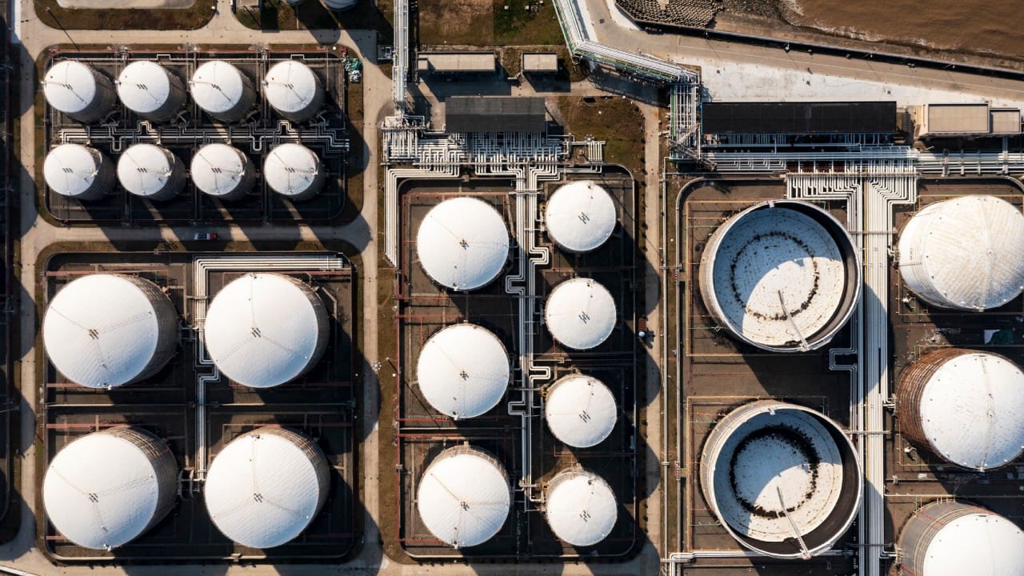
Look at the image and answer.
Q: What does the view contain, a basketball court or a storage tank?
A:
storage tank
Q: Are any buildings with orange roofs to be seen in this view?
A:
No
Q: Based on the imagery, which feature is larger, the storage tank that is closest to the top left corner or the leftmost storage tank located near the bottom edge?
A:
the leftmost storage tank located near the bottom edge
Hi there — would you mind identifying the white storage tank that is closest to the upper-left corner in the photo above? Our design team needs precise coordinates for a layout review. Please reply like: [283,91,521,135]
[38,60,118,123]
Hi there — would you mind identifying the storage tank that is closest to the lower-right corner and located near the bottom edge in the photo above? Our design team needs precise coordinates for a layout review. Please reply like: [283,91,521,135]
[898,499,1024,576]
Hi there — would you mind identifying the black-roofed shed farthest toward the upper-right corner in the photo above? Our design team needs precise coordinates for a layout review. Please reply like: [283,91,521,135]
[697,101,896,137]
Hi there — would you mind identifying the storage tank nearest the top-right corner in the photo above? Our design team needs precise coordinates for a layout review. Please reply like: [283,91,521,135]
[895,195,1024,310]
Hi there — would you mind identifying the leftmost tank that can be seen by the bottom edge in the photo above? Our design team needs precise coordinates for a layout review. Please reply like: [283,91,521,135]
[43,426,178,553]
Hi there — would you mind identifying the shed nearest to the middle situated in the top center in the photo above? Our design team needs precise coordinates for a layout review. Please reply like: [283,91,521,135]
[445,97,547,135]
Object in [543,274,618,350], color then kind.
white storage tank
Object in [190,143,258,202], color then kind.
white storage tank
